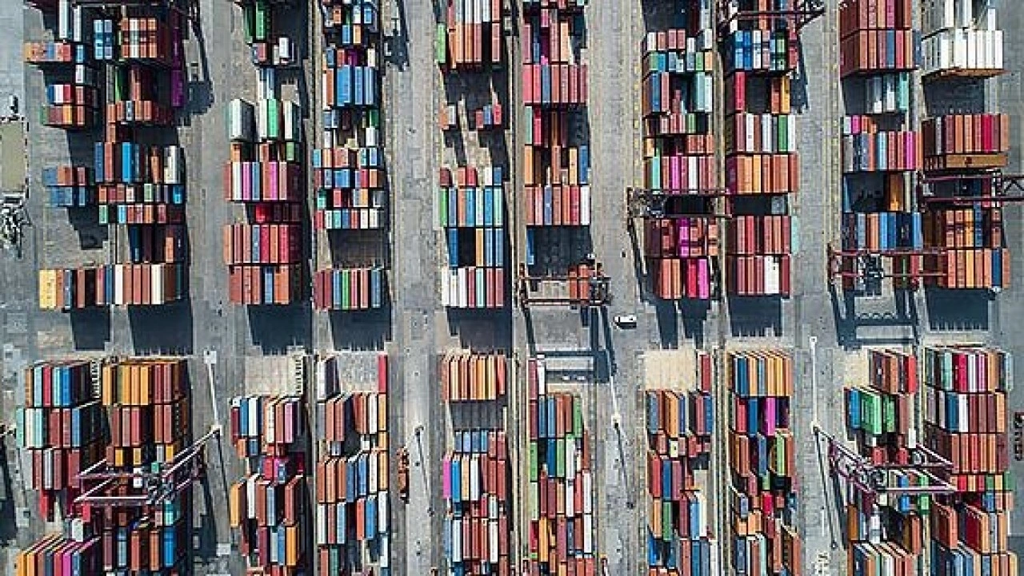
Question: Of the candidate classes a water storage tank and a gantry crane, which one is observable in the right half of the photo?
gantry crane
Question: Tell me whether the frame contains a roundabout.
No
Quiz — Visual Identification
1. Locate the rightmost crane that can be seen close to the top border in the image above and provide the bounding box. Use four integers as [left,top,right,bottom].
[716,0,829,40]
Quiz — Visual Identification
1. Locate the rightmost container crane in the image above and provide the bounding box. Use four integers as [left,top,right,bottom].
[917,174,1024,210]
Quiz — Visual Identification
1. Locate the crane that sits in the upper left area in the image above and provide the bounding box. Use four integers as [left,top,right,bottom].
[69,0,199,32]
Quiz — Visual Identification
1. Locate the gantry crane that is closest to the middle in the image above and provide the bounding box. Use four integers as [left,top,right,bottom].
[518,267,614,310]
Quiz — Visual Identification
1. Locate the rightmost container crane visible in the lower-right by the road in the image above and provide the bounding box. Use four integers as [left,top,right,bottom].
[827,438,957,496]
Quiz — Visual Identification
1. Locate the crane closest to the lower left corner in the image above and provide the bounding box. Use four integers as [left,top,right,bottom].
[70,446,201,508]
